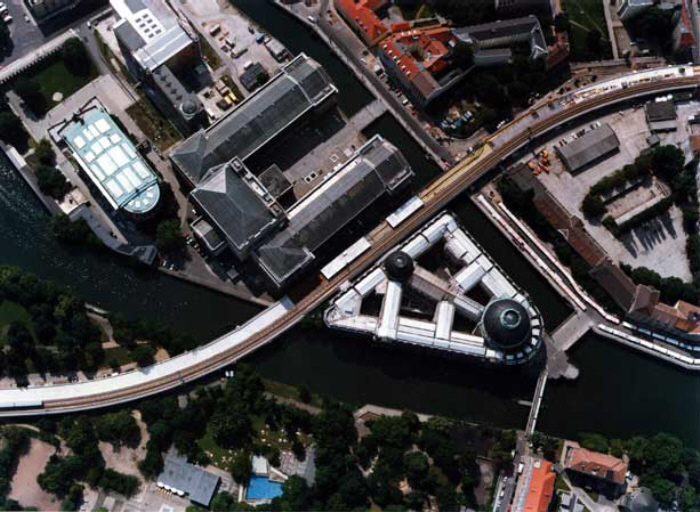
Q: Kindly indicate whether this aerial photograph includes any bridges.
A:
Yes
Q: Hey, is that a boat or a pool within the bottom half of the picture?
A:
pool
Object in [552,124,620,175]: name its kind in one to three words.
building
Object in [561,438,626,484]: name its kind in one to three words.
house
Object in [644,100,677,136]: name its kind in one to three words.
shed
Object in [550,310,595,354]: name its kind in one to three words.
bridge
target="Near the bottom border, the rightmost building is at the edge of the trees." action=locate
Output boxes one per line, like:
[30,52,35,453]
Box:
[617,481,661,512]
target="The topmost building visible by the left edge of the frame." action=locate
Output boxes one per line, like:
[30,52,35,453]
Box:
[25,0,86,40]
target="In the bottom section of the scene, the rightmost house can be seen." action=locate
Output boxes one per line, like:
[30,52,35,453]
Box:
[642,300,700,346]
